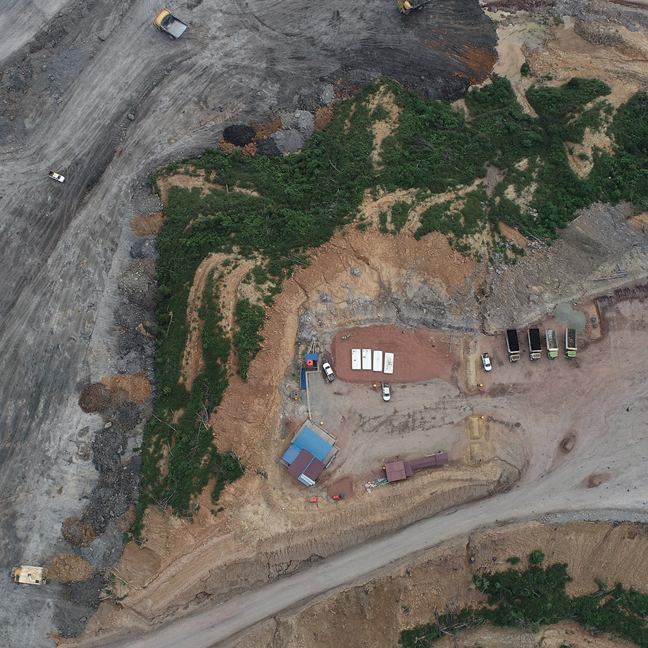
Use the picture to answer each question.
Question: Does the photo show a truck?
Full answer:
Yes, this view includes a truck.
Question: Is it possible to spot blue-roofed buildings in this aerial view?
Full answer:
Yes, a blue-roofed building is visible in the scene.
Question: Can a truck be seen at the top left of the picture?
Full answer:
Yes, looking at the top left of the picture, one can make out a truck.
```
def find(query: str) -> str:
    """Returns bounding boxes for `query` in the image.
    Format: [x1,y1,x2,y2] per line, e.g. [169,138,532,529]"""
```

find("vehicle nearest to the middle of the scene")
[322,362,335,382]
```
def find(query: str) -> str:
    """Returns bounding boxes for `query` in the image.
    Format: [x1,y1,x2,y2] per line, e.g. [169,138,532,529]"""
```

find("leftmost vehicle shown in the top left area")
[47,170,65,183]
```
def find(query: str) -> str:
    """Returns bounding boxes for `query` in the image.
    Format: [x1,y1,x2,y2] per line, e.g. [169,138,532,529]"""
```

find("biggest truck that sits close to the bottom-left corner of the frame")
[11,565,49,586]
